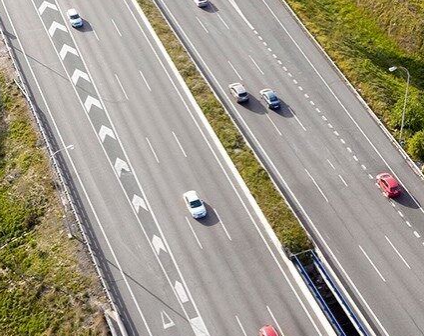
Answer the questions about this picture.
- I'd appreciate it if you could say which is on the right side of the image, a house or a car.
car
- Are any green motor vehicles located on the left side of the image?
No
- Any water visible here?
No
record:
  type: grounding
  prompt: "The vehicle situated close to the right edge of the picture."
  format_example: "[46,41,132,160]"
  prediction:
[378,174,406,199]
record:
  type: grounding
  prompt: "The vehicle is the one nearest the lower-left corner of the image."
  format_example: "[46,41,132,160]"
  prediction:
[183,189,208,219]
